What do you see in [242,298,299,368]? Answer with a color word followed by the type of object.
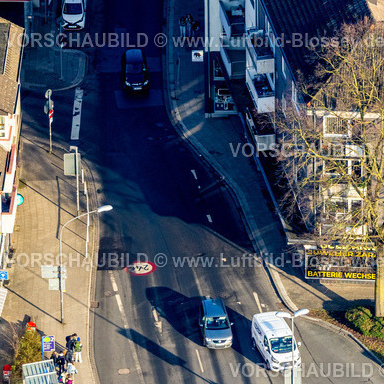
white van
